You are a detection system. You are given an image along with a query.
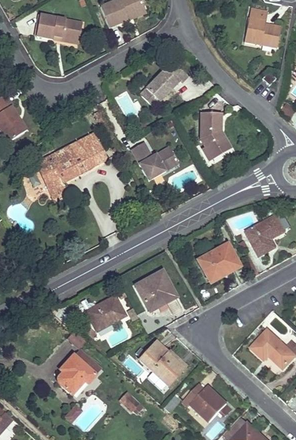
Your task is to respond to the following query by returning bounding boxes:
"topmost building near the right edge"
[244,7,282,50]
